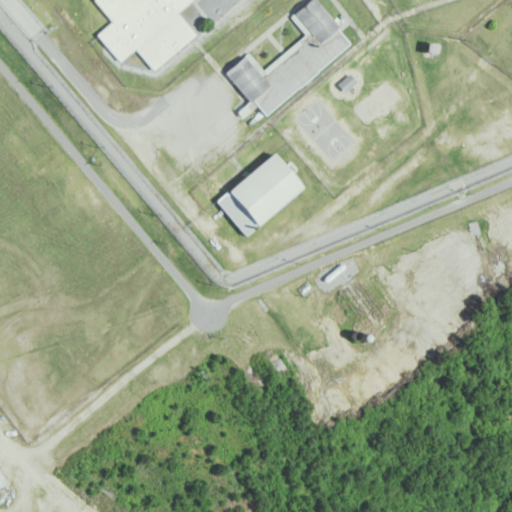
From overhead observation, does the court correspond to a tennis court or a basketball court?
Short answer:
basketball court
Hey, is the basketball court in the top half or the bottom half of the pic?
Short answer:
top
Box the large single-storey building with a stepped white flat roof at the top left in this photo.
[94,0,197,69]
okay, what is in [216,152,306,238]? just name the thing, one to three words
building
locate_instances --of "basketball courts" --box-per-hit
[296,100,354,160]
